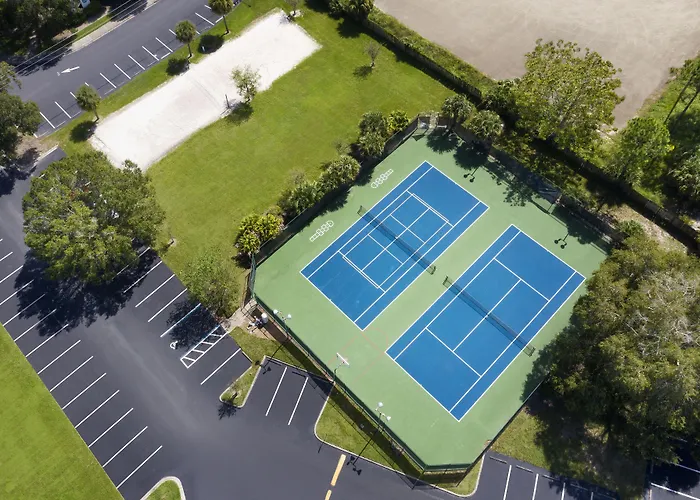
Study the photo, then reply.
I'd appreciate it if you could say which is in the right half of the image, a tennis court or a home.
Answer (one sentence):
What appears in the right half of the image is a tennis court.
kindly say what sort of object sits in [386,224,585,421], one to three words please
tennis court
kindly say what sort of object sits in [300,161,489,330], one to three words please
tennis court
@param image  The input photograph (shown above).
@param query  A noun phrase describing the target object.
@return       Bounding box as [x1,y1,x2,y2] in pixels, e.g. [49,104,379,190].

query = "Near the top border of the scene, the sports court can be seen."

[90,10,321,170]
